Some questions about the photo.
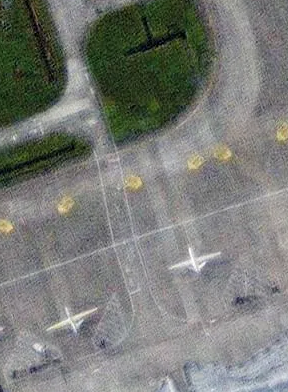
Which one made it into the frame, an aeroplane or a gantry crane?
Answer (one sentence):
It is an aeroplane that can be seen here.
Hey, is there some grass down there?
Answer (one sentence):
Yes, some grass is visible.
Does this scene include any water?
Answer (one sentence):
No, the picture contains no water.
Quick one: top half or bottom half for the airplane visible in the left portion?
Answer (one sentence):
It is in the bottom half that the airplane visible in the left portion appears.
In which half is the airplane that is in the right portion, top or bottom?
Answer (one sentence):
It is in the bottom half that the airplane that is in the right portion appears.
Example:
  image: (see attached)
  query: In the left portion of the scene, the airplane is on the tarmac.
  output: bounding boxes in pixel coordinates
[47,308,96,335]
